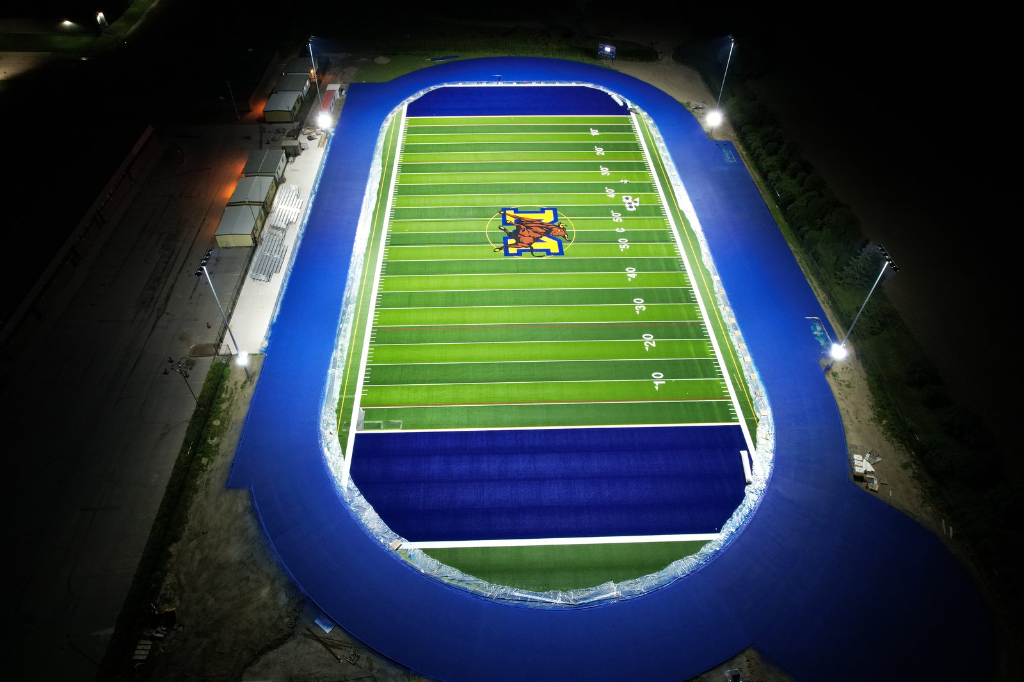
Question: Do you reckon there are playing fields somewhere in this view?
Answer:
Yes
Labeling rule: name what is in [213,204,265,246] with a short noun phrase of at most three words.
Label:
building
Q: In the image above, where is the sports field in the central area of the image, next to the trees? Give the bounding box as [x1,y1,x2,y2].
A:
[320,81,774,608]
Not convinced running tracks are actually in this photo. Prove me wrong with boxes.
[228,56,994,682]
